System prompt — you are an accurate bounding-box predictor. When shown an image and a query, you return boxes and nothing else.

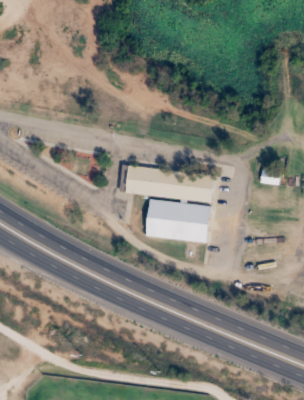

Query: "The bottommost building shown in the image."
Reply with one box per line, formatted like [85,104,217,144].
[146,200,214,243]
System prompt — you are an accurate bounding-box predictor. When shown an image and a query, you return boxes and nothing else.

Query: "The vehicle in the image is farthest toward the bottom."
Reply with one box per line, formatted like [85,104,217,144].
[232,278,272,292]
